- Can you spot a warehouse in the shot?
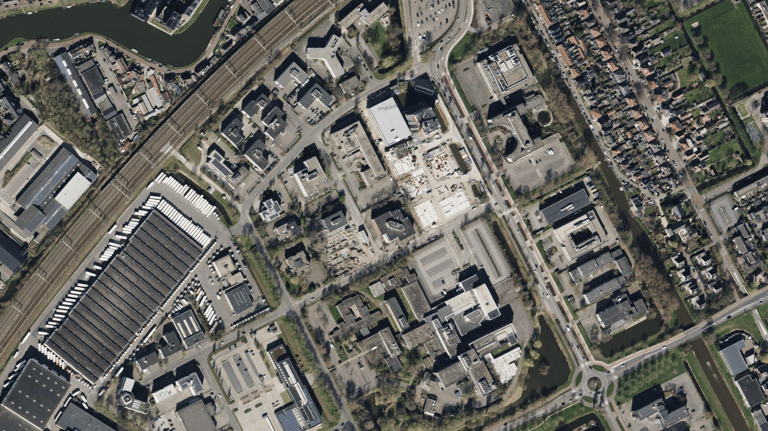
Yes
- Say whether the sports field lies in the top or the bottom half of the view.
top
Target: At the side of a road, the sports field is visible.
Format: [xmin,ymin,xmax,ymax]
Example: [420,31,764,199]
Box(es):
[686,0,768,99]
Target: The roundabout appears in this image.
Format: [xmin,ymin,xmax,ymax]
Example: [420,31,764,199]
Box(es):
[576,365,614,403]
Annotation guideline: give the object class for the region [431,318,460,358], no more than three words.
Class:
building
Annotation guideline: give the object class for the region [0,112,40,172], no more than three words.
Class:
shed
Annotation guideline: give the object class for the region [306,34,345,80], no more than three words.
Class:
building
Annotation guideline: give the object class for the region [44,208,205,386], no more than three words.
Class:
warehouse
